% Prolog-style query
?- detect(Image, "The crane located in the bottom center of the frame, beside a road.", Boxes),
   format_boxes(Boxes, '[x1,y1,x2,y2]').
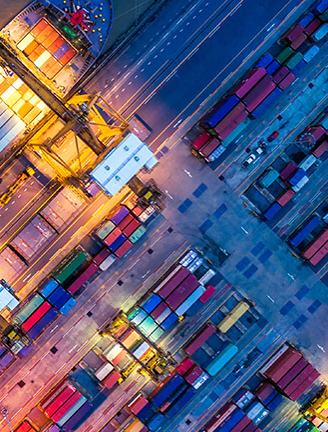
[98,310,179,386]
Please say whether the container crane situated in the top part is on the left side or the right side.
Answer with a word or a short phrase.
left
